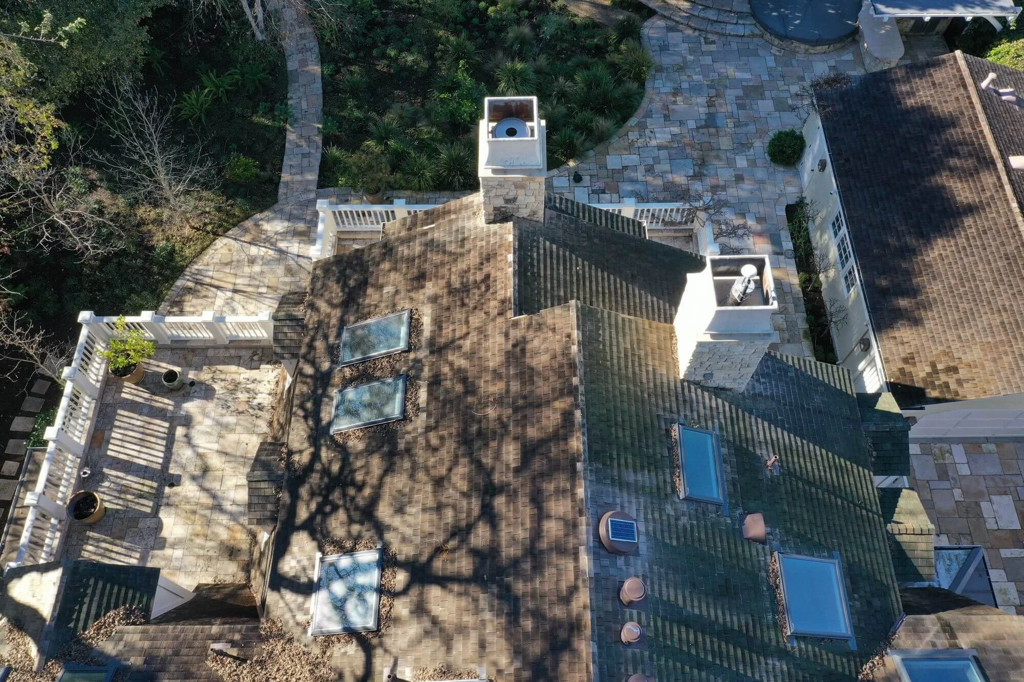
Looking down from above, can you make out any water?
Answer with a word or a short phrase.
No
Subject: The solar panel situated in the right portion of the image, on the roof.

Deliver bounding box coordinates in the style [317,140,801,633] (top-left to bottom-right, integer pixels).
[611,511,640,537]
